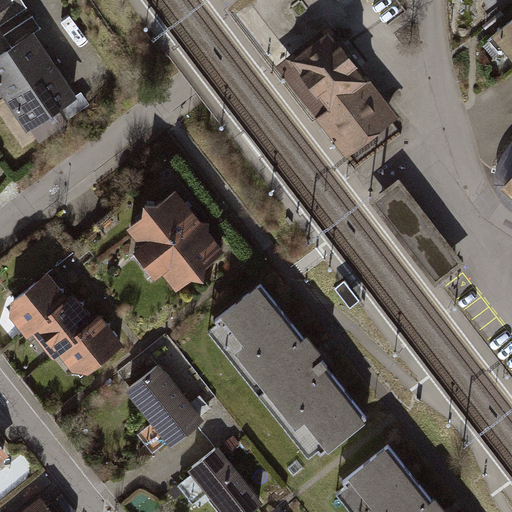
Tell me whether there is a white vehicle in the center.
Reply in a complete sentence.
No, I can find no white vehicle in the center.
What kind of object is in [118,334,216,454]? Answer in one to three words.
house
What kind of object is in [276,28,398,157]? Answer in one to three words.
building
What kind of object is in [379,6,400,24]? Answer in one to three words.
car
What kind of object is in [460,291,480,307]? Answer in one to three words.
car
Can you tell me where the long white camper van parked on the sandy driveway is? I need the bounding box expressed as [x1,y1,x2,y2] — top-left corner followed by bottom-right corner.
[61,17,88,47]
